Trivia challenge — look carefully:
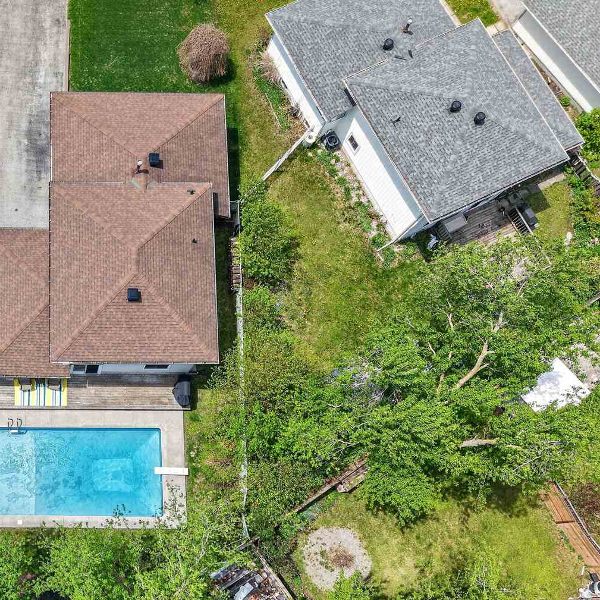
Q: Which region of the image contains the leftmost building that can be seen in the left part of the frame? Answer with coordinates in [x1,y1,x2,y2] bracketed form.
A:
[0,91,230,377]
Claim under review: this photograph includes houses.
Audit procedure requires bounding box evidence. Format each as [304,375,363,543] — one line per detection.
[0,91,230,377]
[262,0,586,251]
